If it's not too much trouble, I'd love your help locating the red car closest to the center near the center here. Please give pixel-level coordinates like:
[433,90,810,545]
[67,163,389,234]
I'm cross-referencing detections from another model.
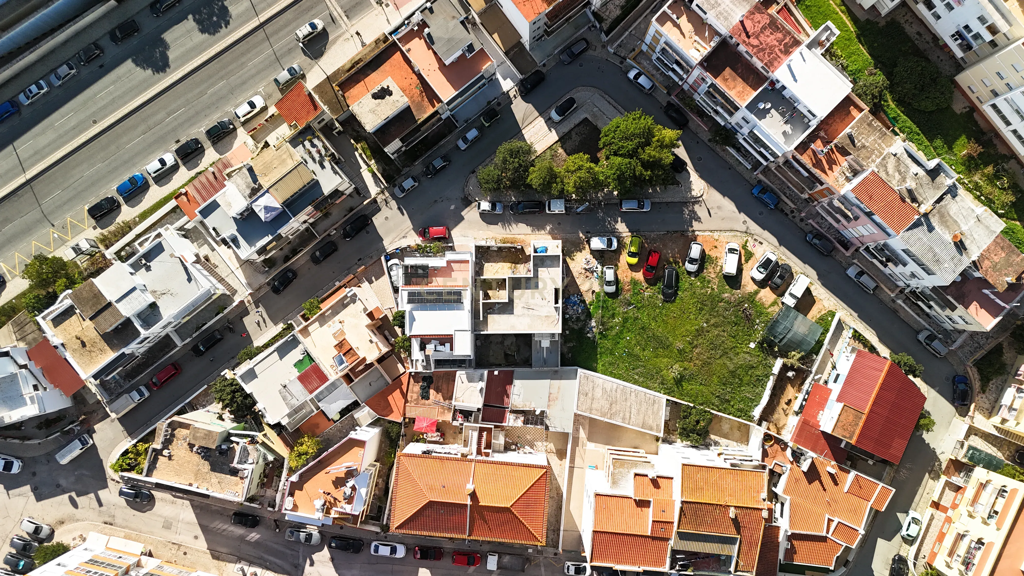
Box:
[416,224,451,242]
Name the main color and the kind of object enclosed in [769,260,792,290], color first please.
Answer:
black car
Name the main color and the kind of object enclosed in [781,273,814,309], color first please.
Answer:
white van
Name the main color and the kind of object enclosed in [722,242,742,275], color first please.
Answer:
white vehicle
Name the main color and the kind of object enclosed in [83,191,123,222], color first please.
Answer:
black car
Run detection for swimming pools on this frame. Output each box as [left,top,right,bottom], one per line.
[962,444,1005,474]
